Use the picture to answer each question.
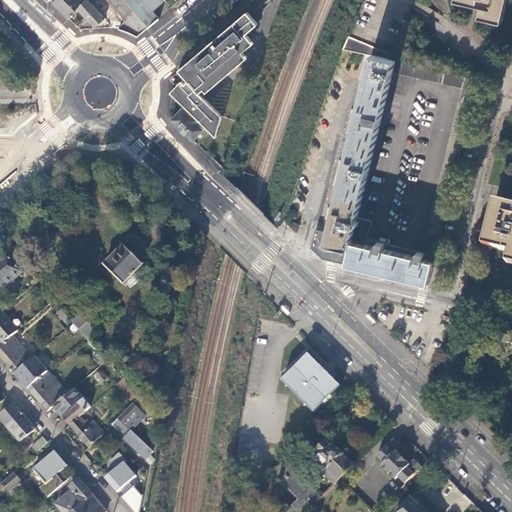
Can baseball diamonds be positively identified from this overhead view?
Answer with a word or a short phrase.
No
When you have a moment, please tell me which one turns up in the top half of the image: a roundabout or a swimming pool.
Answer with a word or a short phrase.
roundabout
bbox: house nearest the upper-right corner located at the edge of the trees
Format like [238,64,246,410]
[451,0,505,28]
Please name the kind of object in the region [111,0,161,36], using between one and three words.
building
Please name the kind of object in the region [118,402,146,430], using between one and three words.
house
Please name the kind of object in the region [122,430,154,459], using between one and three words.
shed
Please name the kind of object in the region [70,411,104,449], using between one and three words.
house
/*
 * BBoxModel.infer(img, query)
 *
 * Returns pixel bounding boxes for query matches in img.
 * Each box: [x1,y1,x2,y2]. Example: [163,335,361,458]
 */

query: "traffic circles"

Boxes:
[36,34,176,154]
